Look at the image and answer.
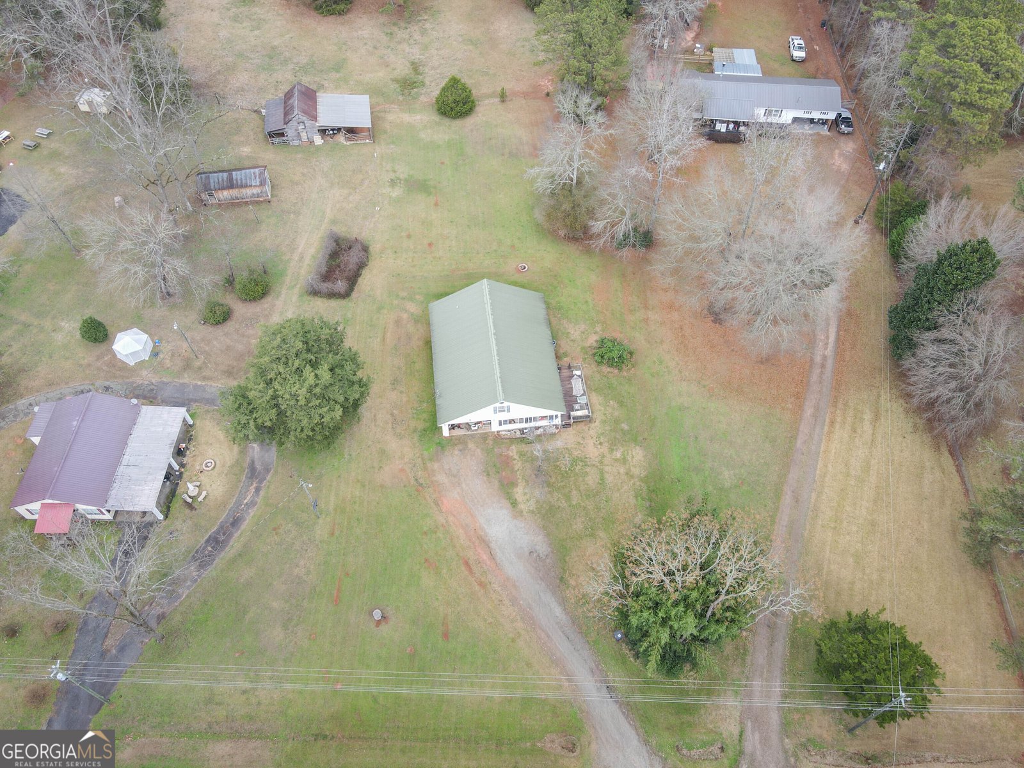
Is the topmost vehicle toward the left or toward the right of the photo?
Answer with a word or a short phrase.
right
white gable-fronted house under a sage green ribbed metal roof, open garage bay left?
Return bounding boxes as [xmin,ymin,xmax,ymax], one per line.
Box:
[425,282,565,438]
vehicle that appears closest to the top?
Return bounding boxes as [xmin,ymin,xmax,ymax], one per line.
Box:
[790,32,810,60]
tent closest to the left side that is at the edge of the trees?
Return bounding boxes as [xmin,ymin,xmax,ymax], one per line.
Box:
[110,328,156,368]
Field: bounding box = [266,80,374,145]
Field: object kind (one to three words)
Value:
barn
